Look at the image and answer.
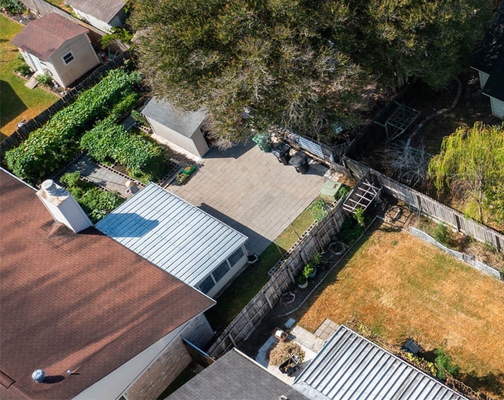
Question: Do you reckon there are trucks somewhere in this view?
No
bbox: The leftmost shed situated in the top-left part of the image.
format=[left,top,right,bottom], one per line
[10,16,103,93]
